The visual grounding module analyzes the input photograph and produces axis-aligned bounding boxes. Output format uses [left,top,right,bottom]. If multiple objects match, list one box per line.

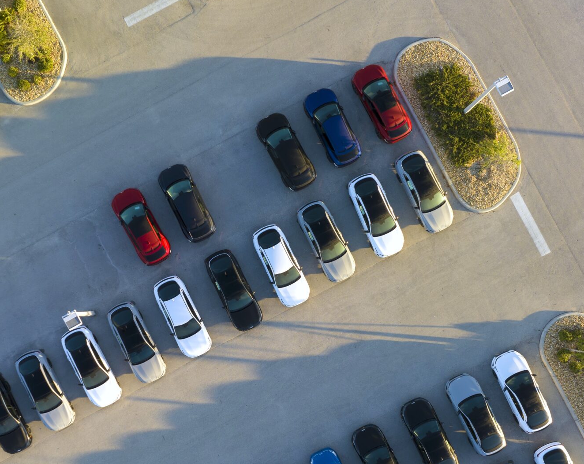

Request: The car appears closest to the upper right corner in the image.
[400,150,453,233]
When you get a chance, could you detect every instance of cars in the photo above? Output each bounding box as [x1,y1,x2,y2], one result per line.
[62,326,115,409]
[207,249,259,331]
[154,276,207,357]
[405,397,457,464]
[355,423,399,464]
[311,446,344,464]
[450,373,506,456]
[300,199,353,282]
[18,349,69,432]
[0,376,31,456]
[255,224,305,306]
[534,441,572,464]
[400,150,453,233]
[109,302,163,384]
[350,174,401,256]
[495,350,552,433]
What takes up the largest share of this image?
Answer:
paved ground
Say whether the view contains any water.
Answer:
No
